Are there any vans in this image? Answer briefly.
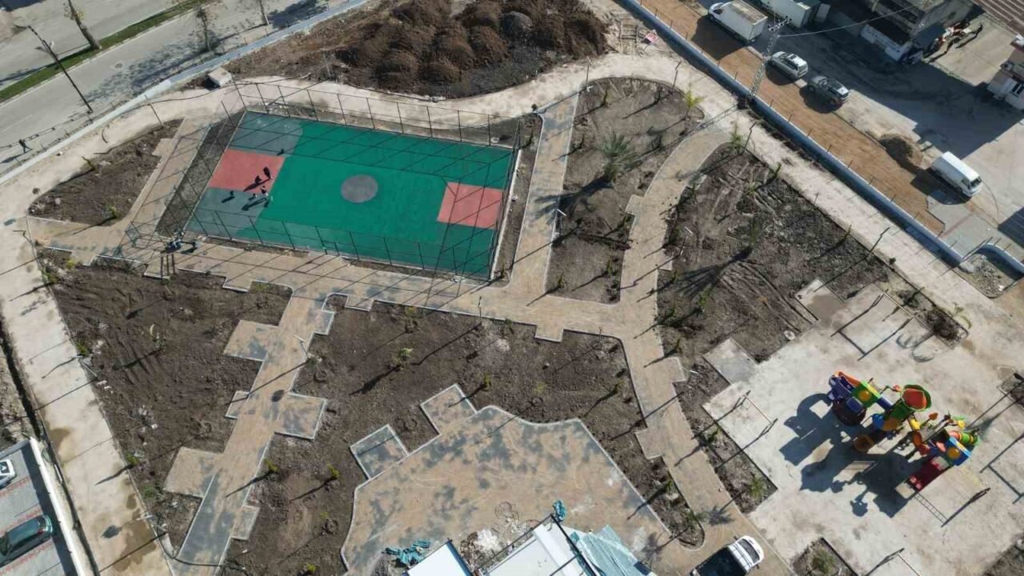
Yes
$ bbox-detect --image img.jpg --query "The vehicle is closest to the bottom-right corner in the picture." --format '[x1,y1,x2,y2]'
[684,537,764,576]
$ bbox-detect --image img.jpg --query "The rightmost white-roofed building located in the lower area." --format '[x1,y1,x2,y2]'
[469,513,598,576]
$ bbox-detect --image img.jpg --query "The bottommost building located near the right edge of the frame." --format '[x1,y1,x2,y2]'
[988,51,1024,105]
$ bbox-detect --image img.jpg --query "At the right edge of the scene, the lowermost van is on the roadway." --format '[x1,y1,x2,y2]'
[930,147,987,196]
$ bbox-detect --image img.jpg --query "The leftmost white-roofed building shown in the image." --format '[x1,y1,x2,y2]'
[408,534,486,576]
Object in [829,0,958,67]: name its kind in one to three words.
building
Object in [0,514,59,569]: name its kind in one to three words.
car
